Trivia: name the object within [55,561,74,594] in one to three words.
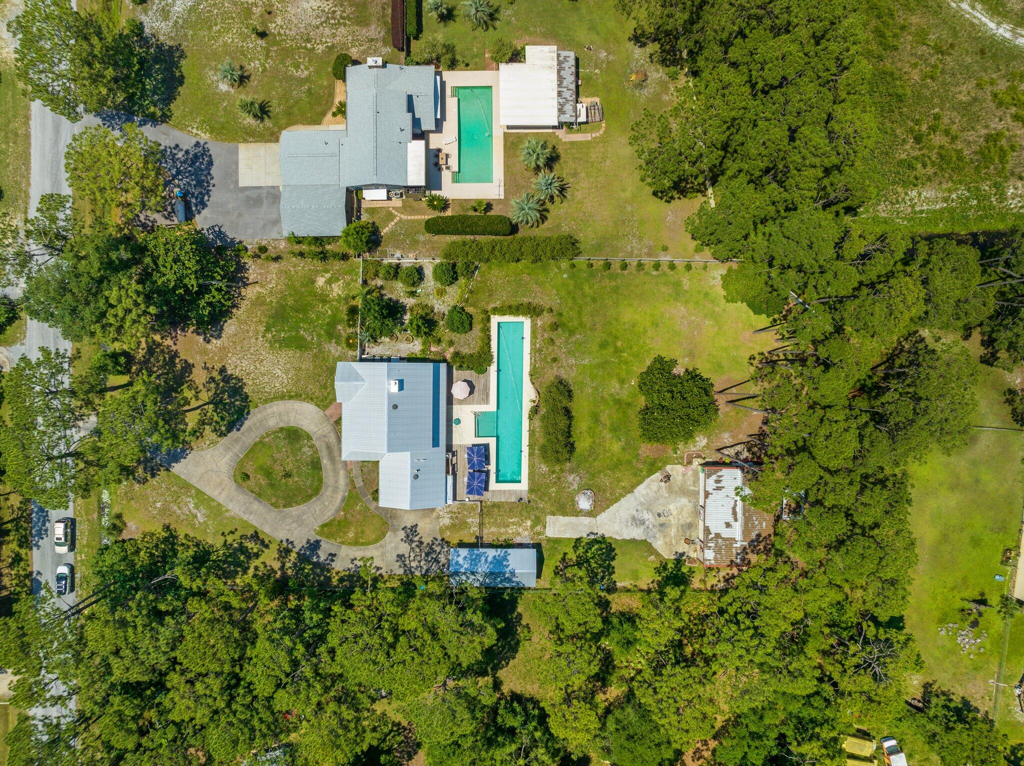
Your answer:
car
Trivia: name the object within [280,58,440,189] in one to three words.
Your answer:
house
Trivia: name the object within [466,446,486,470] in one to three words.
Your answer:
umbrella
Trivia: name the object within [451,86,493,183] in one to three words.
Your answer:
swimming pool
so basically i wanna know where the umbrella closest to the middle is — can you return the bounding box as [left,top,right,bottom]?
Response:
[452,381,470,399]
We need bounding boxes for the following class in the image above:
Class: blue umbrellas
[466,446,486,470]
[466,471,486,496]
